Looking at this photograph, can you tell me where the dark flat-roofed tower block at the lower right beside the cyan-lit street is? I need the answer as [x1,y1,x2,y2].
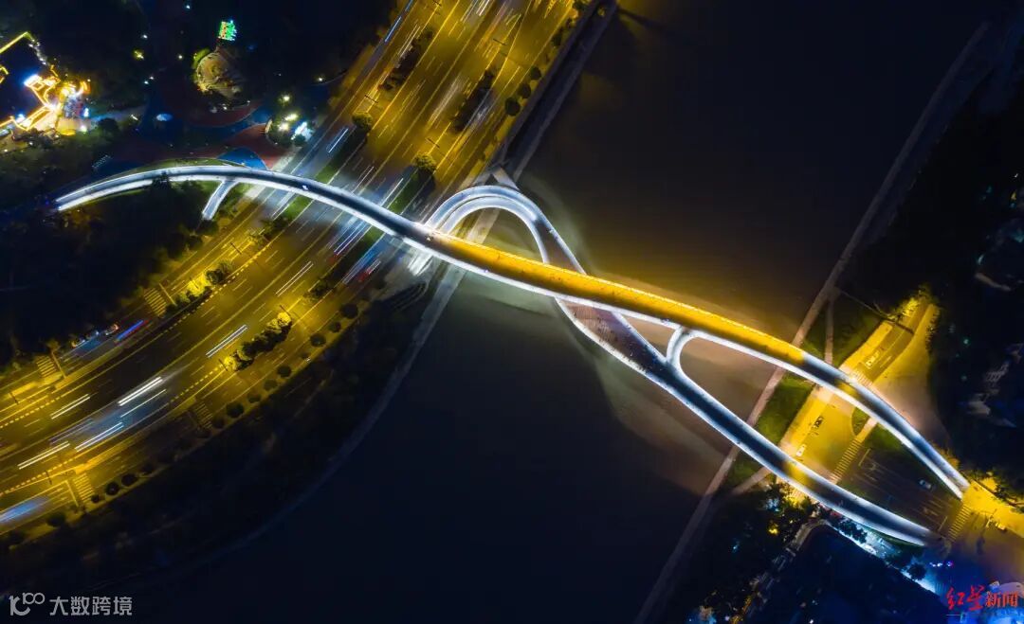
[719,503,950,624]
